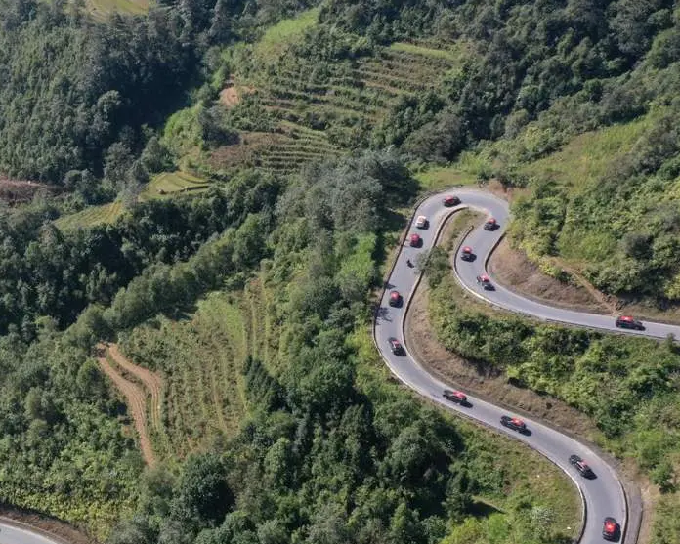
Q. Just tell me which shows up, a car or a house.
car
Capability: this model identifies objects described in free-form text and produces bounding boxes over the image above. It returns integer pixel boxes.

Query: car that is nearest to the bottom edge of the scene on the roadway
[601,518,619,543]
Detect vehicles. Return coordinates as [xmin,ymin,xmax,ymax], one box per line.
[568,457,595,479]
[443,391,472,408]
[443,197,459,206]
[474,274,493,289]
[416,215,427,226]
[389,292,402,306]
[499,417,529,434]
[410,237,420,247]
[484,216,497,229]
[462,245,473,260]
[614,314,643,329]
[601,518,619,543]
